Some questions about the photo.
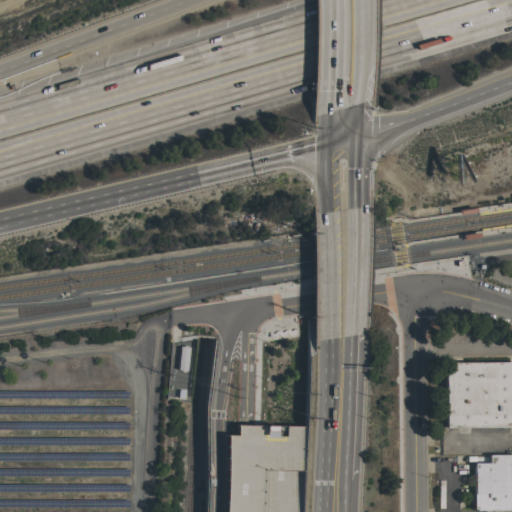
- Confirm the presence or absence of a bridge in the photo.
Yes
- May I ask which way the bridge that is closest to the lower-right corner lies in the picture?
vertically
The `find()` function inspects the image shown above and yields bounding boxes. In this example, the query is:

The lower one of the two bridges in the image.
[317,208,374,342]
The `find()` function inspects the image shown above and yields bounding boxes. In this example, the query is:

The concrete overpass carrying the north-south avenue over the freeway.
[318,0,381,114]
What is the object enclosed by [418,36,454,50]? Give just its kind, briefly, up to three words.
vehicle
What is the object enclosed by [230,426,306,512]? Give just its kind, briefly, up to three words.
building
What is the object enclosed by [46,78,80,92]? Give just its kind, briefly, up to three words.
vehicle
